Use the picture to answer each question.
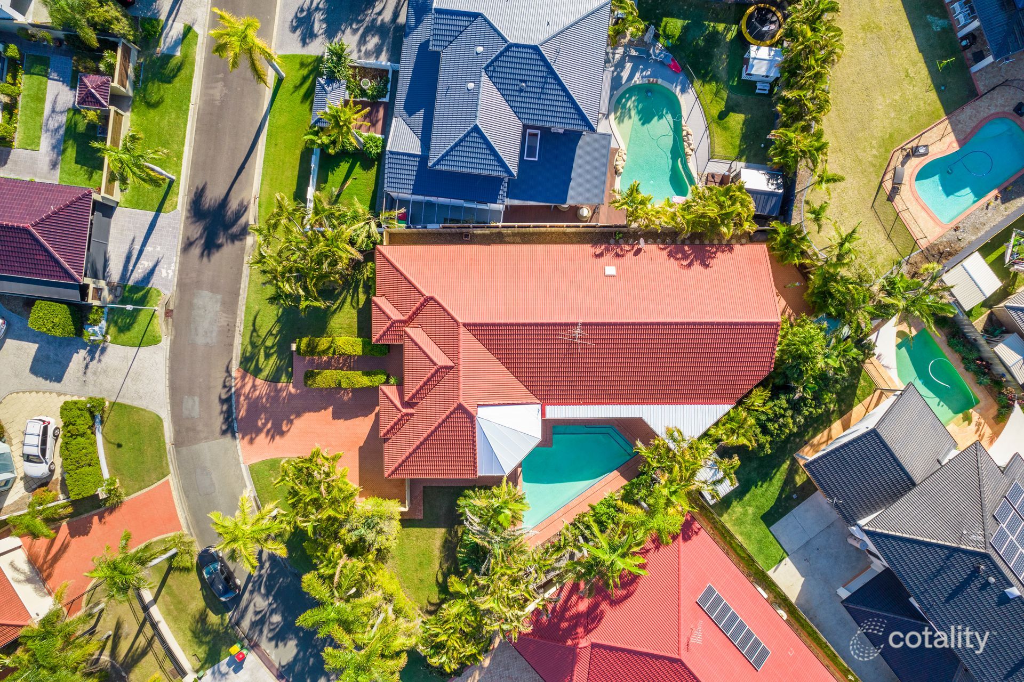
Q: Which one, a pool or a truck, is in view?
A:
pool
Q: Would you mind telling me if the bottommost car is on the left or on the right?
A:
left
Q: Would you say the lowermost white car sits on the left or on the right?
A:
left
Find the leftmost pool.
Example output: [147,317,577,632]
[519,423,640,526]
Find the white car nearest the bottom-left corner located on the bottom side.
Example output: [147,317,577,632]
[17,420,59,480]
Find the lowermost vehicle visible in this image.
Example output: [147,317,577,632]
[192,548,241,609]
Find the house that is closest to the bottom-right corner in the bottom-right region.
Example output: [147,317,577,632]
[798,381,1024,682]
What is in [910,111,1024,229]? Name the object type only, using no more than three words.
swimming pool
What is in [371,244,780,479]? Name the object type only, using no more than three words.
house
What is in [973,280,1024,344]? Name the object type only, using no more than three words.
house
